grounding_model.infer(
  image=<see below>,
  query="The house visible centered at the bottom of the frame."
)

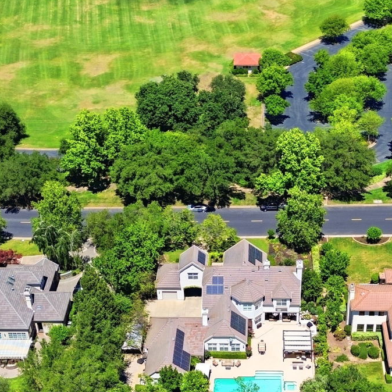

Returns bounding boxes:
[147,242,304,385]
